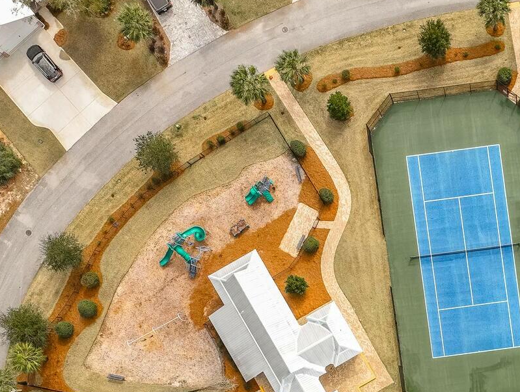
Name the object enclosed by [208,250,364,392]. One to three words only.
building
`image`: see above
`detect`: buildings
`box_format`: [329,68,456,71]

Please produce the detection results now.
[208,250,364,392]
[0,0,46,60]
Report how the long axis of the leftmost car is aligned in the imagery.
diagonally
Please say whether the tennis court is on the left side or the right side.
right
